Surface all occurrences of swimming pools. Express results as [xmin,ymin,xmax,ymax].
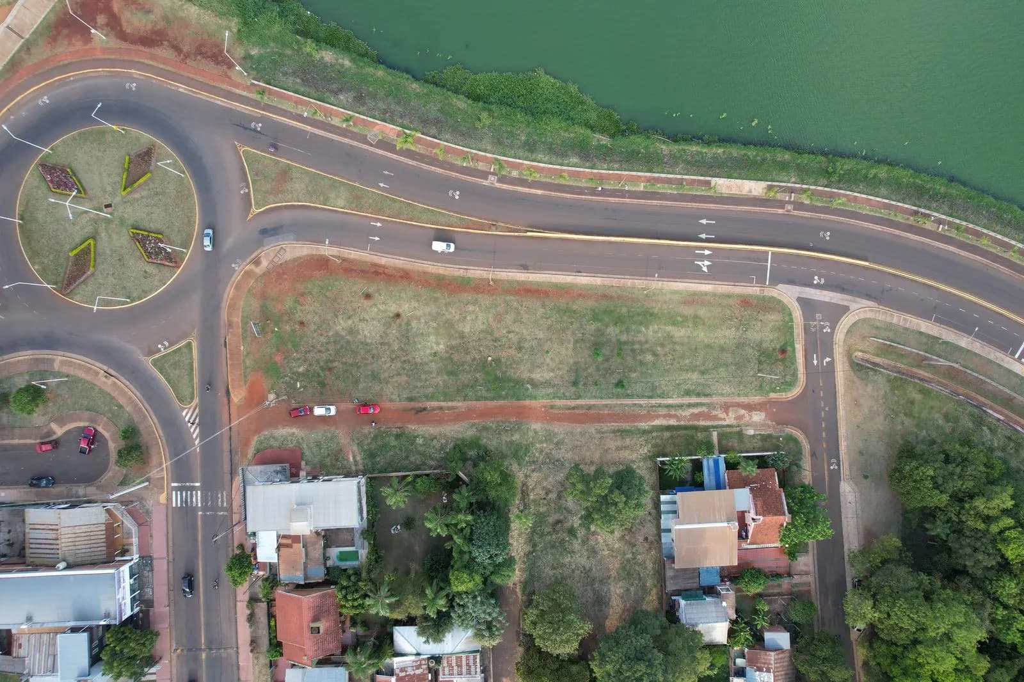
[335,549,360,563]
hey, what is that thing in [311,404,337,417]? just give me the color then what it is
white vehicle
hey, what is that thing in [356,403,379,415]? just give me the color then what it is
red vehicle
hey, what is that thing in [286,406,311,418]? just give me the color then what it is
red vehicle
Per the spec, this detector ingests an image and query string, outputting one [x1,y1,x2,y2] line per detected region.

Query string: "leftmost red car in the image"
[32,440,58,453]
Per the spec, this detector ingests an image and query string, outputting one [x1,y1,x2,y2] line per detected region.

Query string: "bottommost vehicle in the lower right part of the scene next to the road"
[850,621,869,643]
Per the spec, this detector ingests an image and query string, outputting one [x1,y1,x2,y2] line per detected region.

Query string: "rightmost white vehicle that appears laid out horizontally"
[430,240,456,252]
